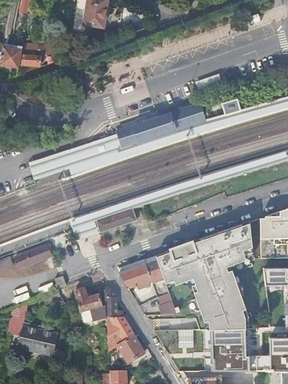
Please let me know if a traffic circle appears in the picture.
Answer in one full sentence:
No, no traffic circle can be seen from above.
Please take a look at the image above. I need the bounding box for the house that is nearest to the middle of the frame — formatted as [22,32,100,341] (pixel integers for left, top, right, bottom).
[98,209,136,232]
